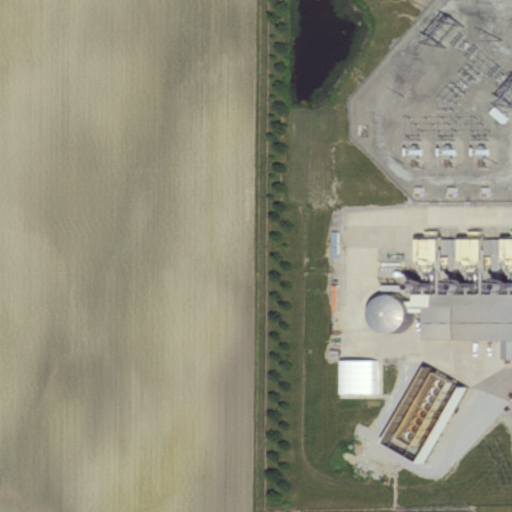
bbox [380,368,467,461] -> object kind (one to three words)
cooling tower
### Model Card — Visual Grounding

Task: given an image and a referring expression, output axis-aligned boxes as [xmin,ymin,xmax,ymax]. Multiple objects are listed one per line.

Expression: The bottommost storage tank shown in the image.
[364,294,414,333]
